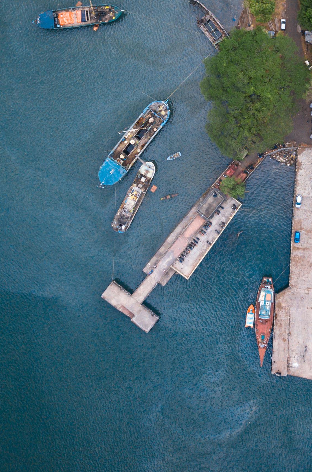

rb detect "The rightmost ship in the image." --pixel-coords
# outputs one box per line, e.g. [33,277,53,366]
[254,276,276,366]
